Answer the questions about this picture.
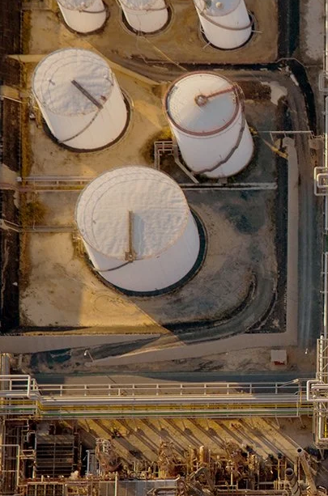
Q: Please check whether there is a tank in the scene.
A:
Yes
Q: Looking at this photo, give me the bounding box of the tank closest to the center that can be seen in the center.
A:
[71,160,209,305]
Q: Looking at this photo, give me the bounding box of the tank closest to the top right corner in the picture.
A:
[190,0,260,56]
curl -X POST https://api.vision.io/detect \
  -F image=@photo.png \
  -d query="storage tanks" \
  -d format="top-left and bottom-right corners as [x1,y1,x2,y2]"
[115,0,177,43]
[55,0,114,40]
[158,65,257,180]
[71,160,209,305]
[190,0,260,56]
[31,45,135,157]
